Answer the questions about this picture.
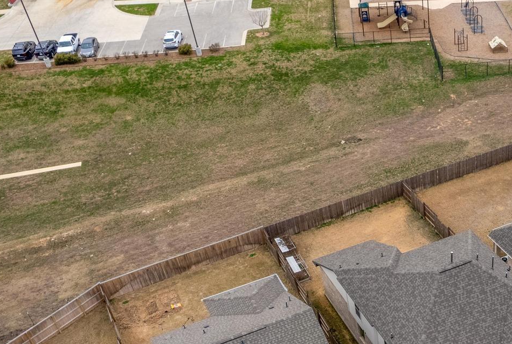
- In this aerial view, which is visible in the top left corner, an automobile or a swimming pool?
automobile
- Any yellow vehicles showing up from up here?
No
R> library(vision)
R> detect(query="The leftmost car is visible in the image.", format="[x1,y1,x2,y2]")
[12,40,36,57]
